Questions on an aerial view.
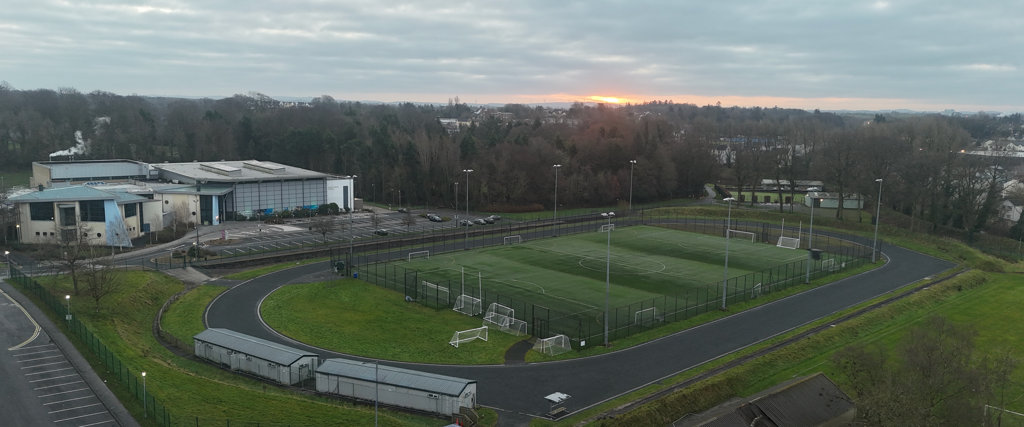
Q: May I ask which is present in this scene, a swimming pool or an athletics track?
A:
athletics track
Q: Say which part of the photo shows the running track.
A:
bottom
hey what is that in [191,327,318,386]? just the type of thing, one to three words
shed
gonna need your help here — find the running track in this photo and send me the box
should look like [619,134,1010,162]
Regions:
[206,219,956,420]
